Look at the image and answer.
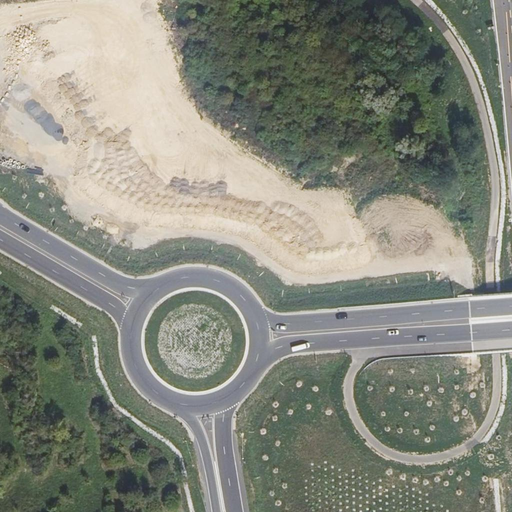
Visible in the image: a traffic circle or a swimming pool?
traffic circle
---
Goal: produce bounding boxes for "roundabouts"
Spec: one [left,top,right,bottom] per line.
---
[110,264,280,424]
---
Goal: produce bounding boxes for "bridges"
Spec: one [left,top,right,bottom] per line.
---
[458,290,512,355]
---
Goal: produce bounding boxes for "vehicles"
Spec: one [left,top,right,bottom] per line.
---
[388,330,399,336]
[336,313,348,319]
[276,324,286,330]
[291,344,310,352]
[19,223,30,232]
[418,336,428,341]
